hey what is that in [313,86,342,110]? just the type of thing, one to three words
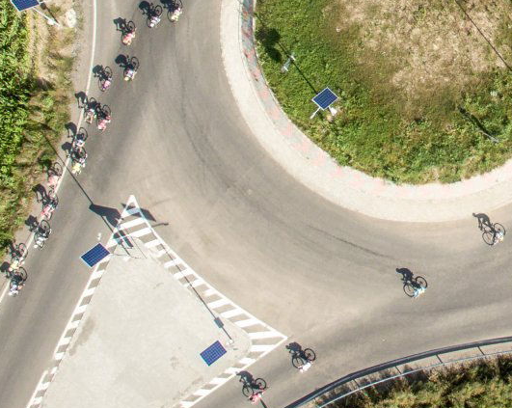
solar panel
